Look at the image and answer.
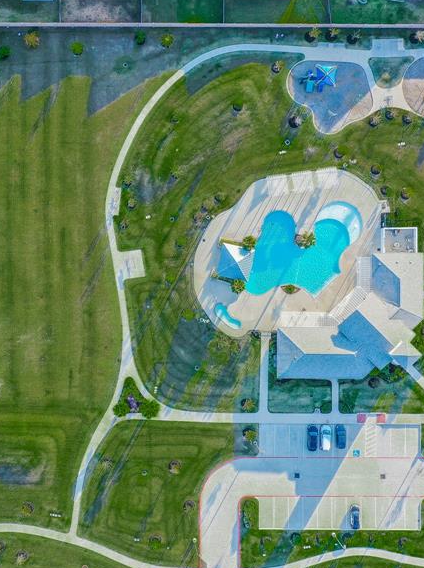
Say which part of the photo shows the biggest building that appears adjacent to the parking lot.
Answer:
right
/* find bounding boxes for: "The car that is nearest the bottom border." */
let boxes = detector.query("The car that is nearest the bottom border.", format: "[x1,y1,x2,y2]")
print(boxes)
[349,505,363,532]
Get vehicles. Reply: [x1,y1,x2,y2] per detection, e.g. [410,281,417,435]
[307,426,320,452]
[335,424,348,451]
[321,425,334,453]
[349,505,363,532]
